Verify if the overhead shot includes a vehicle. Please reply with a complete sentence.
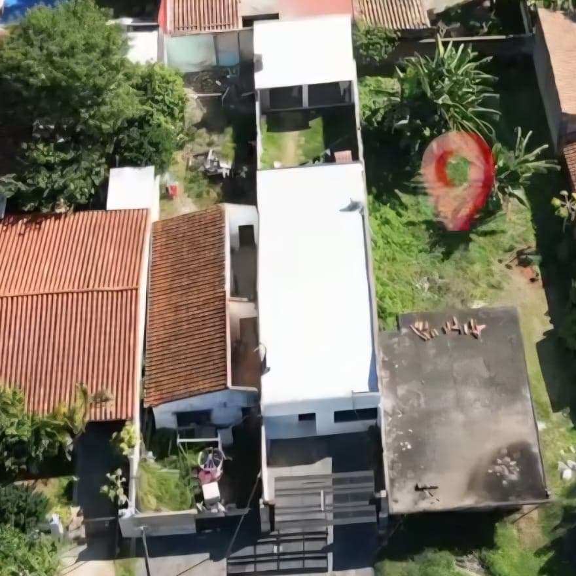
No, the scene contains no vehicle.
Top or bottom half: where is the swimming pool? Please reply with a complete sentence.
The swimming pool is in the top half of the image.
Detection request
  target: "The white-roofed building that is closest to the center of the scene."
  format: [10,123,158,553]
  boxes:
[254,161,388,446]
